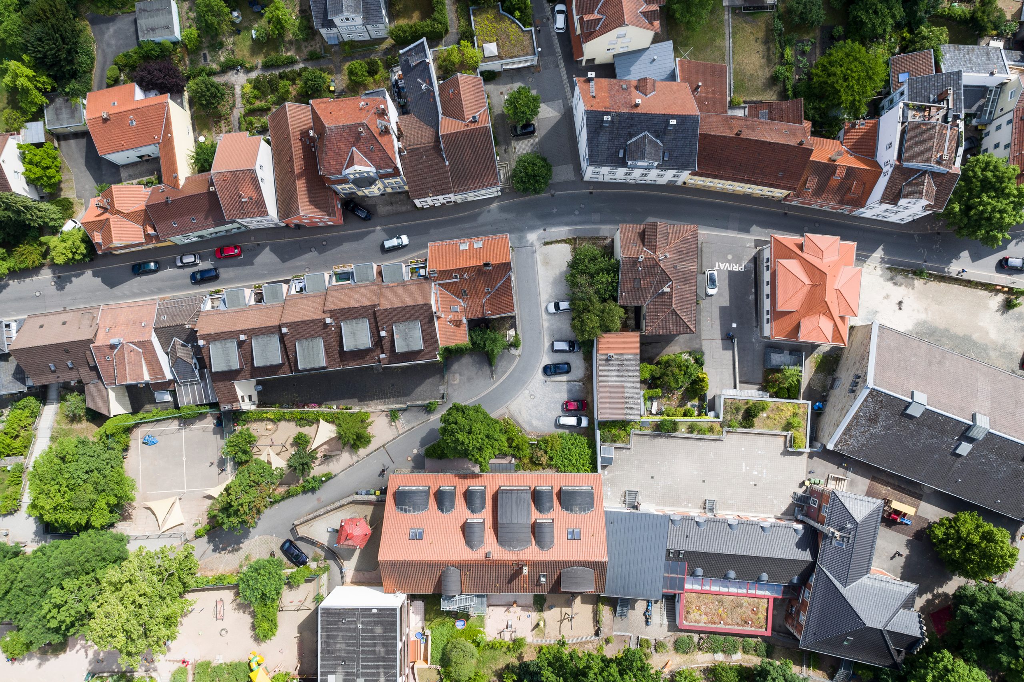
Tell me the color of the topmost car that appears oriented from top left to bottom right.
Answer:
black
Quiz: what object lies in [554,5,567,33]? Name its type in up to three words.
vehicle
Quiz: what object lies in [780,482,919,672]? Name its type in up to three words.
building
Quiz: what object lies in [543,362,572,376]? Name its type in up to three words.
car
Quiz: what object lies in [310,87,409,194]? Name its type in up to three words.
house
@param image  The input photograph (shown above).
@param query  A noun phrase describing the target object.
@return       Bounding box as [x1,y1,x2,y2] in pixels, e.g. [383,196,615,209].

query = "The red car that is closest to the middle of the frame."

[563,399,587,412]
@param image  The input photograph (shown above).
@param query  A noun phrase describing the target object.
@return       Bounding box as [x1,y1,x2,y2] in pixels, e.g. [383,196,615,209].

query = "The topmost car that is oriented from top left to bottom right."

[343,198,373,222]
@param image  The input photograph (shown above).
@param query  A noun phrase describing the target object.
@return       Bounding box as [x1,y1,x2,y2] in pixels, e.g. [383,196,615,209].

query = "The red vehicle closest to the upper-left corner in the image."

[216,245,243,258]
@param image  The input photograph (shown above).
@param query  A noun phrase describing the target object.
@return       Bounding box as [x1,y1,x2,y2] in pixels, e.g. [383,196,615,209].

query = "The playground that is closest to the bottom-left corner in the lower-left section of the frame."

[0,580,320,682]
